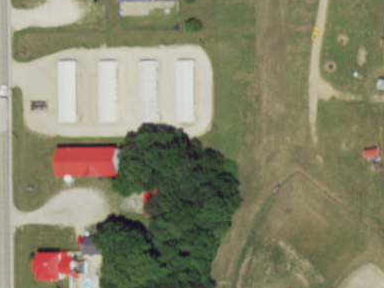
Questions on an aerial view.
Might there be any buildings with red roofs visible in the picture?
Yes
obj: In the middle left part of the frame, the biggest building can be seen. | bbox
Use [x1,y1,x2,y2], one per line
[53,147,118,176]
